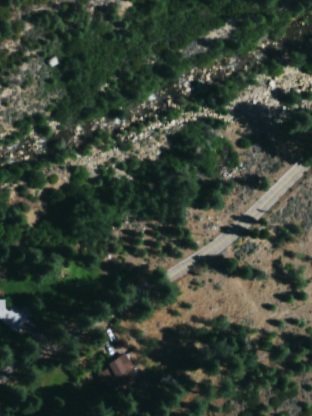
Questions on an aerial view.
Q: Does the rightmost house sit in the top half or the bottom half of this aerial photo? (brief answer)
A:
bottom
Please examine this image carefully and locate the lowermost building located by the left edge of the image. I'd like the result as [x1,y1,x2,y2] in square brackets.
[0,298,28,326]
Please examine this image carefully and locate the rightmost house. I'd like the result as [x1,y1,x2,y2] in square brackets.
[108,352,136,380]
